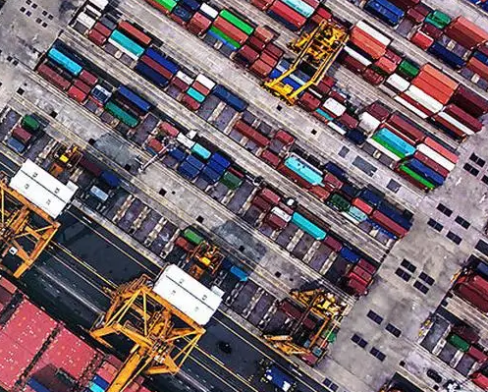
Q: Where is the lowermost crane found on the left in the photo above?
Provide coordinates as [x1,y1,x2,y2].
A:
[86,257,230,392]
